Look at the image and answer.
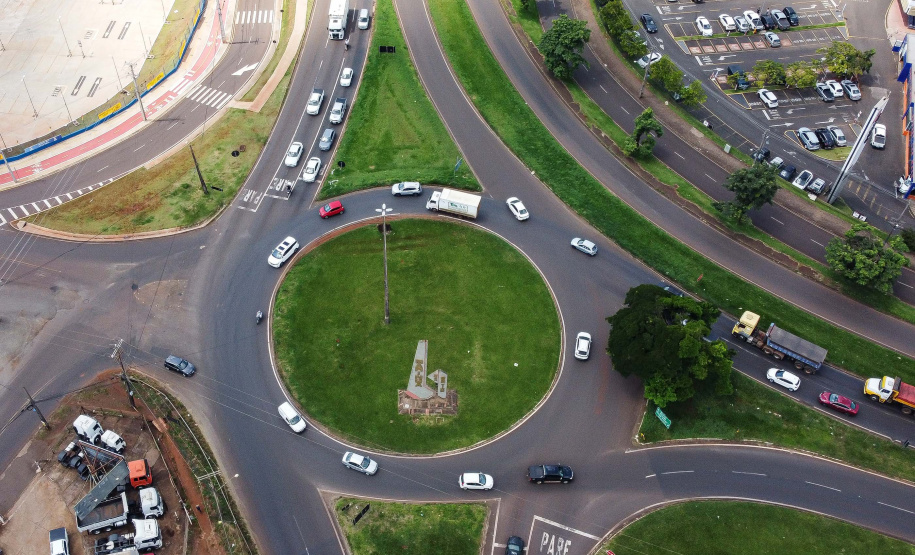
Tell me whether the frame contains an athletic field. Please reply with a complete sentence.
No, I can't see a single athletic field in this photo.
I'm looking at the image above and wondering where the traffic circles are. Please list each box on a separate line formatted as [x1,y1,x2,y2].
[197,181,631,517]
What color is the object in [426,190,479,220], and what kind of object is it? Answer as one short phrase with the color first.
white truck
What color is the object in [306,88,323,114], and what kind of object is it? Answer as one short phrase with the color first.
white vehicle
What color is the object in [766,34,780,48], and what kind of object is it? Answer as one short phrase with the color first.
gray car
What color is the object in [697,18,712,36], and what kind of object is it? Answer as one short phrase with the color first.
white car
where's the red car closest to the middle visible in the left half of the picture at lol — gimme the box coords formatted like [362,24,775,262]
[318,200,345,218]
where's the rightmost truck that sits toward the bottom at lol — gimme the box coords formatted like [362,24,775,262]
[860,374,915,415]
